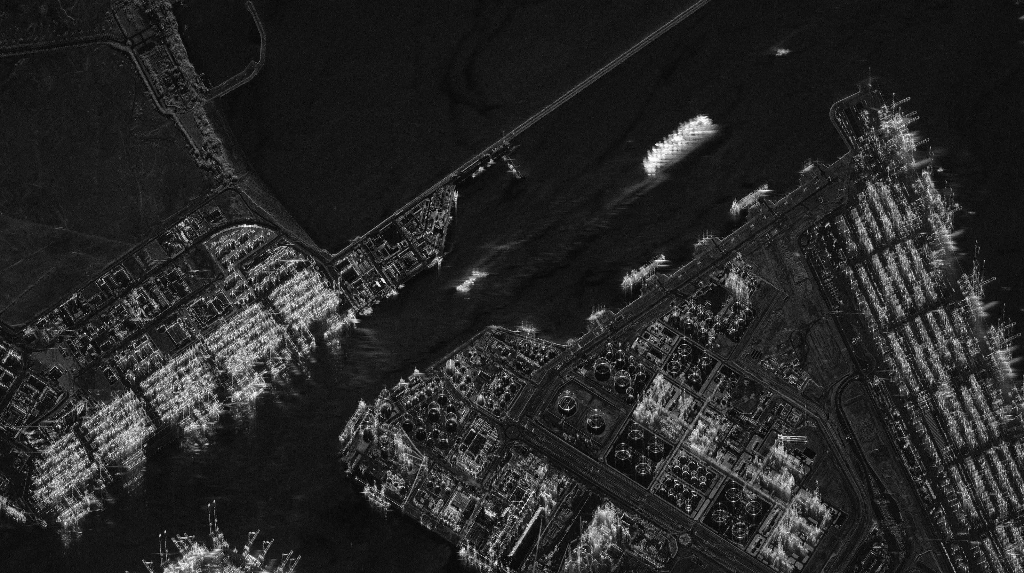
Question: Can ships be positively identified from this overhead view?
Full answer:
Yes, this view includes a ship.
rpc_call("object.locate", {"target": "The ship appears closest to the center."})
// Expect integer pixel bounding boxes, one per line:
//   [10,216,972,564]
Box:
[459,273,486,292]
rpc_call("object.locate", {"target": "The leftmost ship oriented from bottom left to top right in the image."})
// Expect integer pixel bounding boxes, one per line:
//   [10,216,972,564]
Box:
[54,500,102,534]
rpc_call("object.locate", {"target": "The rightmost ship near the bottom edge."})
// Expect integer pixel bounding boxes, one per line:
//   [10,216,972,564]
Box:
[462,549,494,573]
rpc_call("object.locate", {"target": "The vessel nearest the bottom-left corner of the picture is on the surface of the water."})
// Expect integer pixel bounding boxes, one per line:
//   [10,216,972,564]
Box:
[0,502,26,524]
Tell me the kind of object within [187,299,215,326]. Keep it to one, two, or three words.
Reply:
building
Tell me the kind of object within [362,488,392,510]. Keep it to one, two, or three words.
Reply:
ship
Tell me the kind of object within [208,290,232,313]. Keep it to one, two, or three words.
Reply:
building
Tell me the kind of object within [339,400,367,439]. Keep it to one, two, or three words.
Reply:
ship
